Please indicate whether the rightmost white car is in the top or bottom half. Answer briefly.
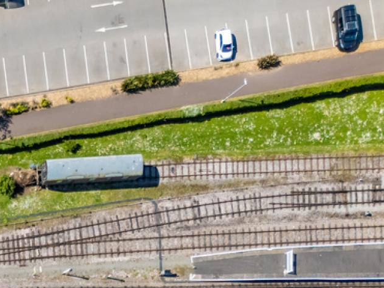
top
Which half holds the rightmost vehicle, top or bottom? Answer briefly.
top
